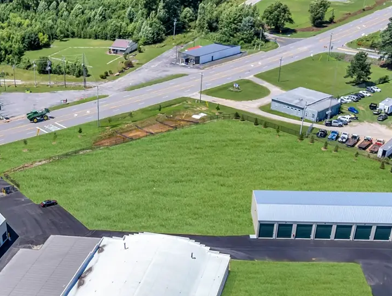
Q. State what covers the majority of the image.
grass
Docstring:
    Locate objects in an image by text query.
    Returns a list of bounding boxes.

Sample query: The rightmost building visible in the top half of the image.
[271,85,343,121]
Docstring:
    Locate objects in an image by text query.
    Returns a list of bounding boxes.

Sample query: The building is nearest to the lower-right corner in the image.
[248,195,392,243]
